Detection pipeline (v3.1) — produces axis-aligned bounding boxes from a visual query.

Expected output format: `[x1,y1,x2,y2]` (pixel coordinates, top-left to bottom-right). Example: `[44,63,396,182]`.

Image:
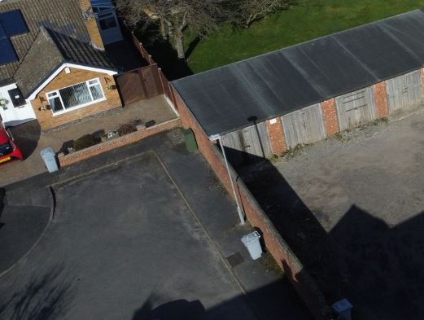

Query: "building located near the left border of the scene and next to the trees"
[0,0,127,131]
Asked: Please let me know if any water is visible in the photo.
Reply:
No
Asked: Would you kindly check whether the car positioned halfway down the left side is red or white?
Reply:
red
